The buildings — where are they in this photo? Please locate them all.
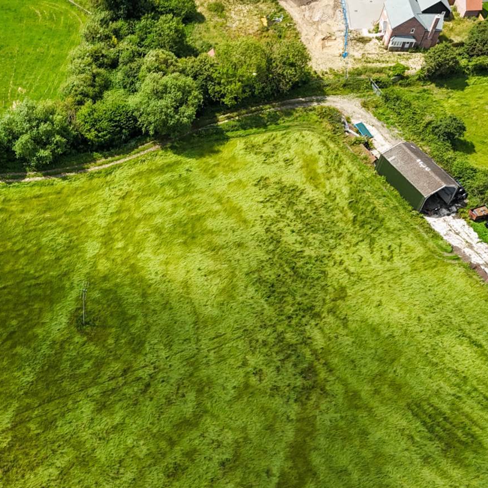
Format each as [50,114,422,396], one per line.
[384,0,458,52]
[378,142,463,207]
[458,0,483,22]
